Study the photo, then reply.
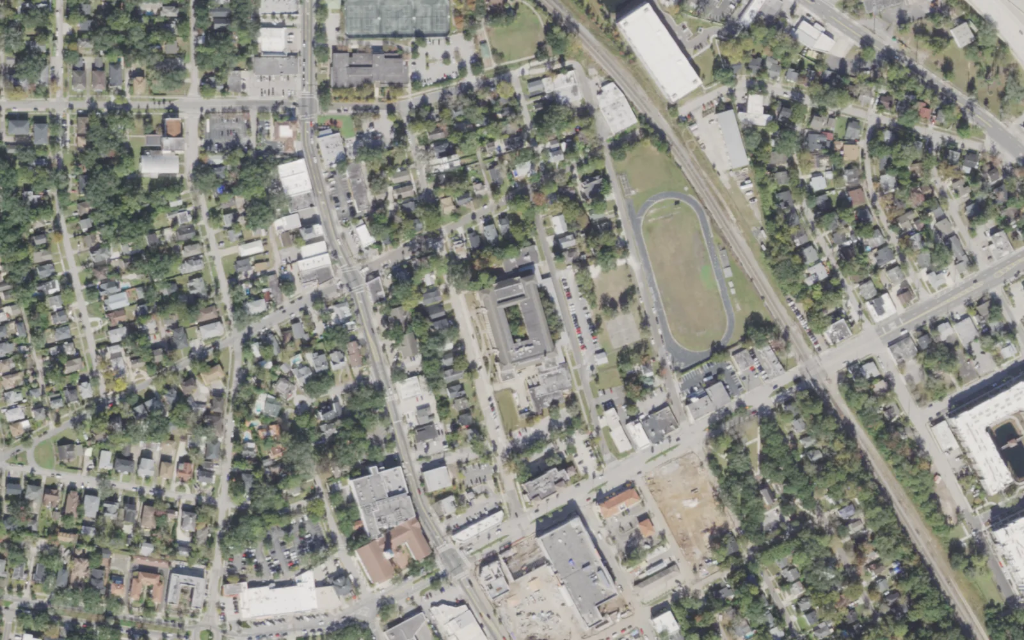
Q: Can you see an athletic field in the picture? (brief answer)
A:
Yes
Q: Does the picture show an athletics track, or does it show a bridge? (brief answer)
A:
athletics track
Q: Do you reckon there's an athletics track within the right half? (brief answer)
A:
Yes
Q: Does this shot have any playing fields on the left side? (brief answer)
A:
No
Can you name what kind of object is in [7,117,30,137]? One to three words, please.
house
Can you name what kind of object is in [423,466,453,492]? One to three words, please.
building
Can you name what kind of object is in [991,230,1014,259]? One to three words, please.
building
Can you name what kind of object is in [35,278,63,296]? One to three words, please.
house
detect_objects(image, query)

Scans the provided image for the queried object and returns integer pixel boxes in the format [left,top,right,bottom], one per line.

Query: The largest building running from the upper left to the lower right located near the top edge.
[617,2,703,102]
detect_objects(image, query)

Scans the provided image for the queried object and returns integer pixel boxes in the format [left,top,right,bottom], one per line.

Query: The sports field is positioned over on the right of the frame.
[642,199,727,351]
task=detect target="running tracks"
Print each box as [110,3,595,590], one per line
[627,191,735,370]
